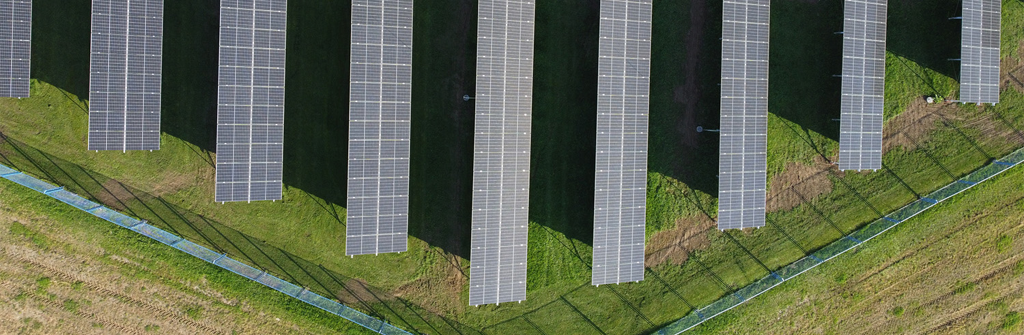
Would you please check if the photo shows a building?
No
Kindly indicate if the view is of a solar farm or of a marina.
solar farm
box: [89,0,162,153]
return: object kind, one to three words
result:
solar array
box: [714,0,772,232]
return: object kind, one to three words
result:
solar array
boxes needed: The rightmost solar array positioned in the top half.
[946,0,1002,107]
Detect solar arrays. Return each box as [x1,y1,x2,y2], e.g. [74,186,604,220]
[946,0,1002,107]
[592,0,653,288]
[714,0,772,232]
[0,0,31,100]
[470,0,535,308]
[829,0,888,173]
[347,0,413,259]
[216,0,286,205]
[89,0,162,153]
